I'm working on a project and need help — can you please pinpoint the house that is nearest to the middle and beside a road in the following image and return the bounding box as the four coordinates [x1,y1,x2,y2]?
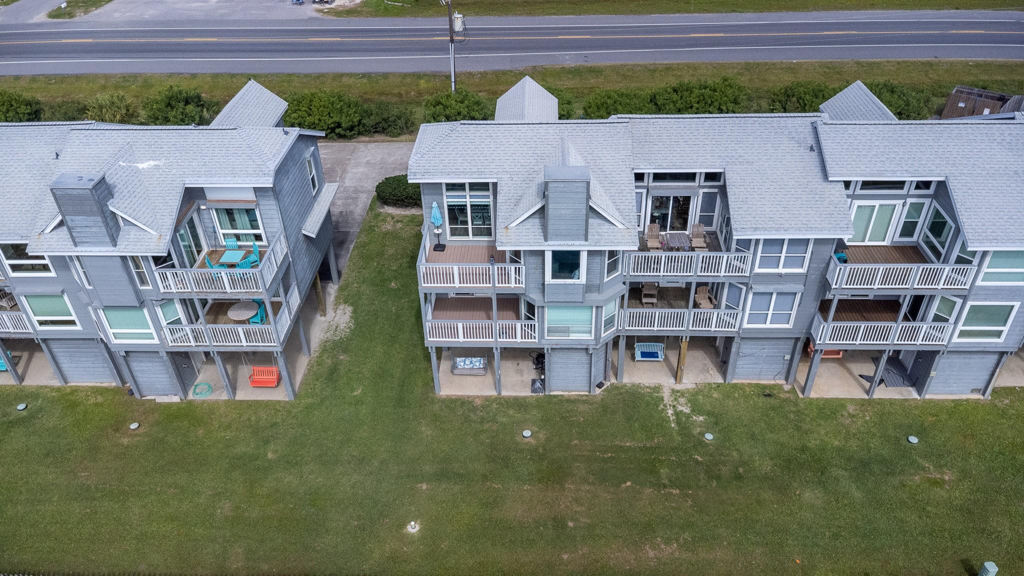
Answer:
[407,75,637,394]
